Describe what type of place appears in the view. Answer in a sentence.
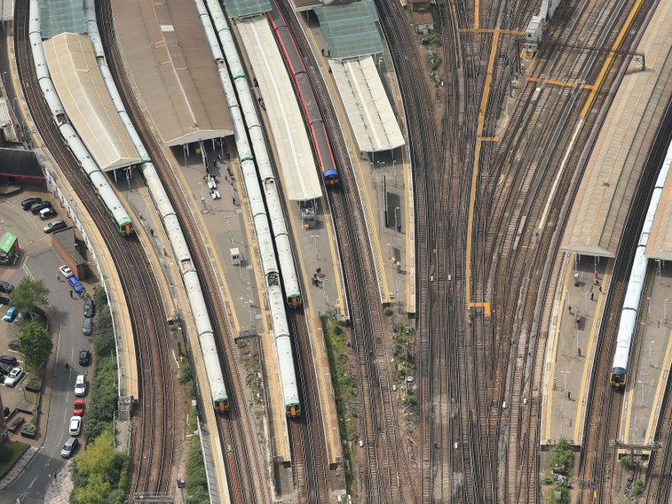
This looks like a rail yard.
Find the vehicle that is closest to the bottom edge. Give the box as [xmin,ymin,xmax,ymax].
[58,433,78,455]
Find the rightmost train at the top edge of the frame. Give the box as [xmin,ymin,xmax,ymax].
[267,0,336,186]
